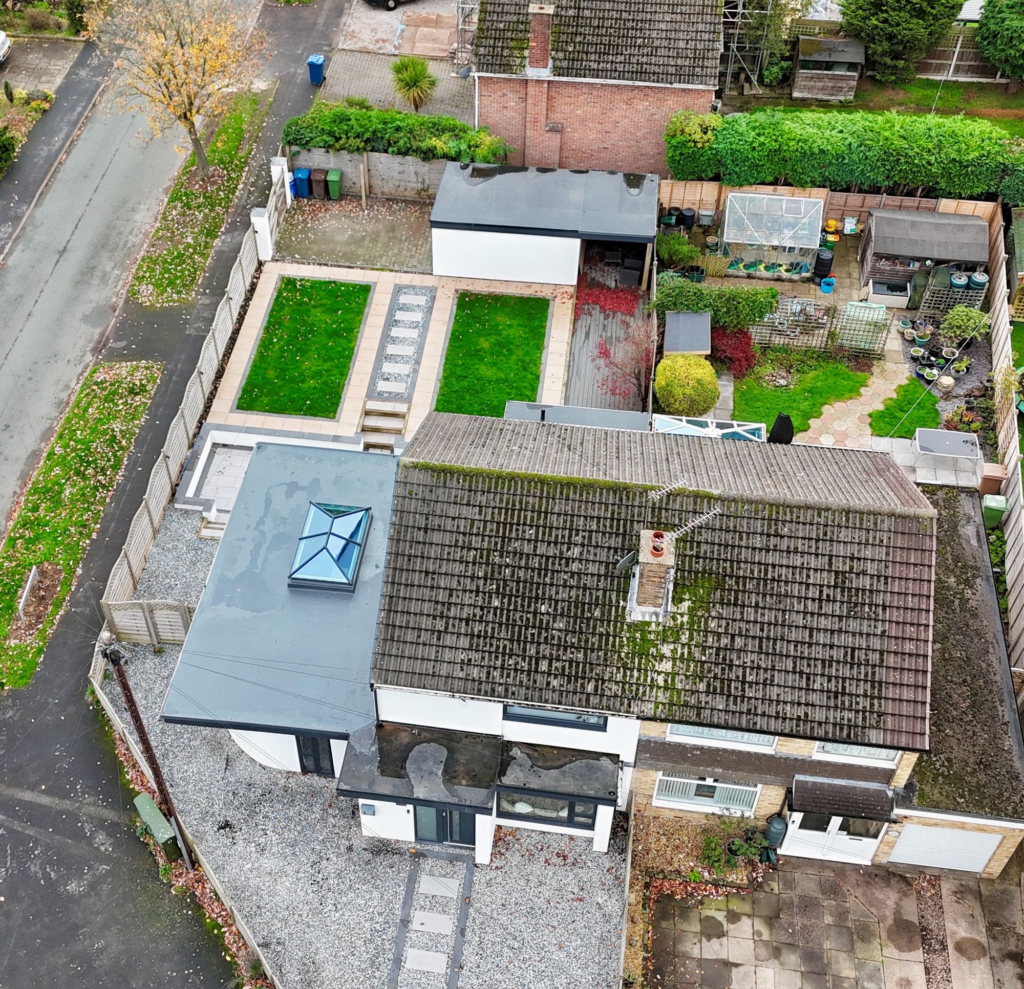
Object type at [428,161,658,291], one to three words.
building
